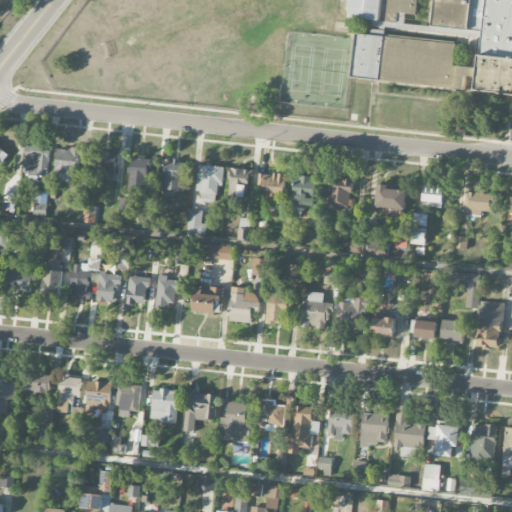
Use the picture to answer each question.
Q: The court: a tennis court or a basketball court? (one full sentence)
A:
What you see as the court is a tennis court.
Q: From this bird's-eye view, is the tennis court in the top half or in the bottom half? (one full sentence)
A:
Seen from above, the tennis court lies in the top half of the view.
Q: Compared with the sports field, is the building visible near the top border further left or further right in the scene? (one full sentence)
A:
You can see the building visible near the top border positioned to the right of the sports field.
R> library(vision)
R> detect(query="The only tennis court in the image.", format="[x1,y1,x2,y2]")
[280,32,352,109]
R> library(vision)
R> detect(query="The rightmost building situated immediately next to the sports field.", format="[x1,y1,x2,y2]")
[346,0,512,95]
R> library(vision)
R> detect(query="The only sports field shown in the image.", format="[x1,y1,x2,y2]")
[46,0,346,114]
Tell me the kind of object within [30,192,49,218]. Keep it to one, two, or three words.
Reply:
building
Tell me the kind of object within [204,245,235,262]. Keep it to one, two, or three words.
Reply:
building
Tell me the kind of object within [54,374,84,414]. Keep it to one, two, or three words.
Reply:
house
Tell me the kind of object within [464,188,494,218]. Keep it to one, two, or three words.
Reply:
house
